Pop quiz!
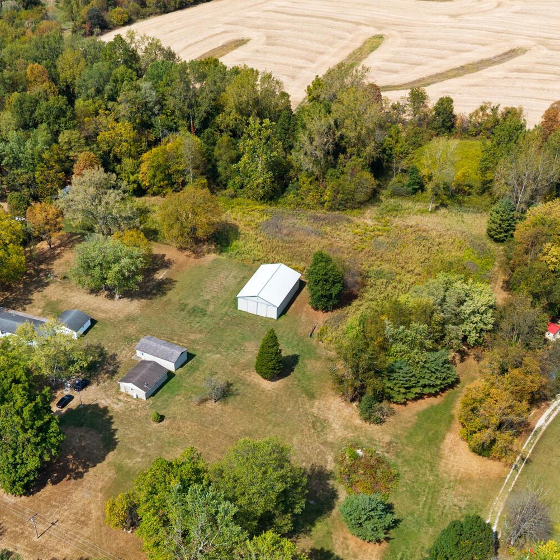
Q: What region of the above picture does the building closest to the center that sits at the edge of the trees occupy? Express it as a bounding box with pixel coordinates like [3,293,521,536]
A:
[235,264,303,320]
